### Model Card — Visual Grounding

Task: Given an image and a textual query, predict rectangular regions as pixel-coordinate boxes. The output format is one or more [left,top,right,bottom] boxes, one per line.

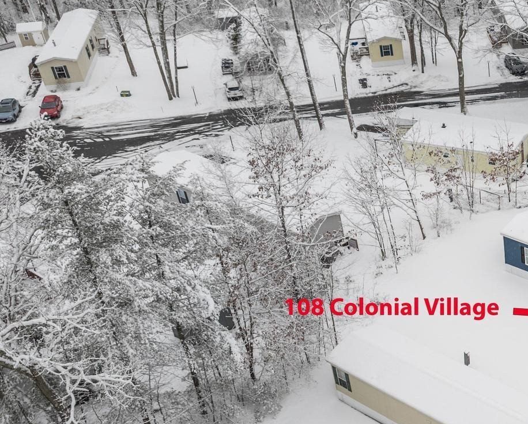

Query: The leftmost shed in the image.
[13,21,50,46]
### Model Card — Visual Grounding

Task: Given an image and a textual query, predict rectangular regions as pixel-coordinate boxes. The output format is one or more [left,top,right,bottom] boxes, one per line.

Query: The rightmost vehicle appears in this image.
[504,50,528,74]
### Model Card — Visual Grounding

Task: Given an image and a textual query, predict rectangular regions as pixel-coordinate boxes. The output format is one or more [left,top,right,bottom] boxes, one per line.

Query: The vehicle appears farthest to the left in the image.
[0,96,23,120]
